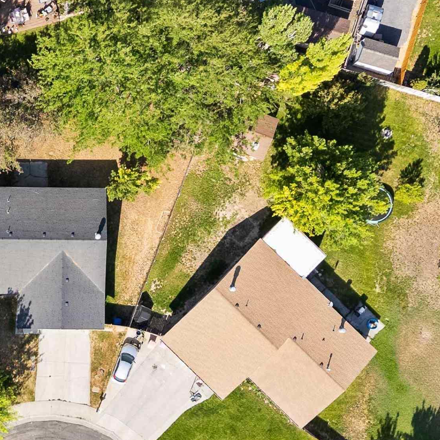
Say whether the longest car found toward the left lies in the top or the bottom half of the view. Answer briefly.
bottom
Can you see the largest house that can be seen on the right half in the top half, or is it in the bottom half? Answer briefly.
bottom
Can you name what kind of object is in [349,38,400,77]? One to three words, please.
shed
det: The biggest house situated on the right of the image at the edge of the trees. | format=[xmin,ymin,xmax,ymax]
[160,238,377,428]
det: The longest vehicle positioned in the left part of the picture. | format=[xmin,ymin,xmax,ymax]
[111,336,139,385]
